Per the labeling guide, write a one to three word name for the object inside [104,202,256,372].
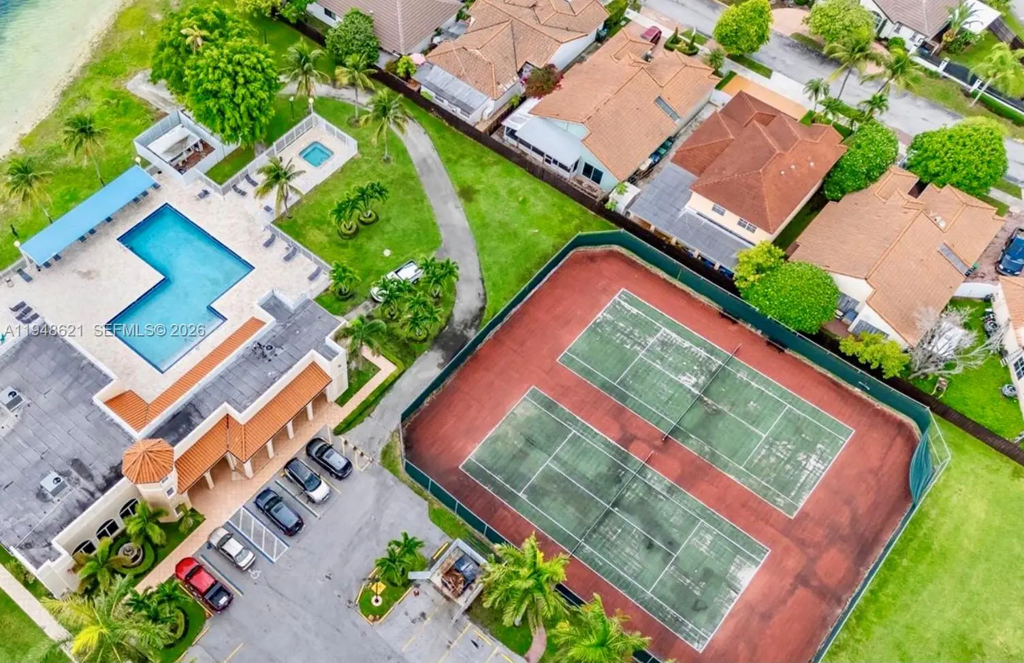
swimming pool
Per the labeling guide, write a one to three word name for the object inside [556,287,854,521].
tennis court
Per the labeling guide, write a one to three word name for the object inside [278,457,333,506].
car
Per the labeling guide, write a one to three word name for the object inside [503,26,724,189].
house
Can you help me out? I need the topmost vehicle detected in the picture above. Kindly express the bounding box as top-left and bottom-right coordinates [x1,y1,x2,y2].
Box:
[637,22,668,51]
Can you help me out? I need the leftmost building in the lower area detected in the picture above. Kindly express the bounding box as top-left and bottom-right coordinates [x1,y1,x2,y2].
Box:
[0,292,349,600]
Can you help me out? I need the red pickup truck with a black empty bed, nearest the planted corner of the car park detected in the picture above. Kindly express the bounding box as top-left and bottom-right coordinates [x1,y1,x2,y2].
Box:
[172,553,239,618]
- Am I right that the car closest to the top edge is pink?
Yes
